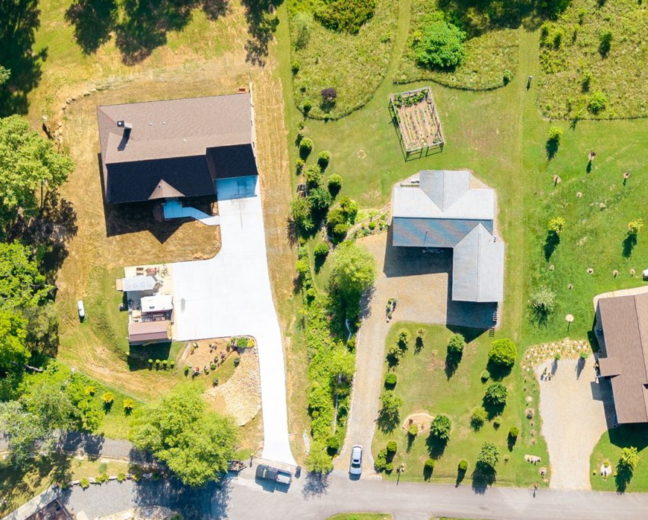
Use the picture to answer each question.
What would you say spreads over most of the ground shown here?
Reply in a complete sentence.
The largest share of the image is taken up by grass.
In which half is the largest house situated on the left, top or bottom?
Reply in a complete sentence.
The top half of the photo is where the largest house situated on the left is.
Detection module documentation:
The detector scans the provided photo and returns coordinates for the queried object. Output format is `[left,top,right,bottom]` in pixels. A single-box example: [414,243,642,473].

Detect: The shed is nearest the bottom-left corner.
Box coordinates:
[129,320,173,342]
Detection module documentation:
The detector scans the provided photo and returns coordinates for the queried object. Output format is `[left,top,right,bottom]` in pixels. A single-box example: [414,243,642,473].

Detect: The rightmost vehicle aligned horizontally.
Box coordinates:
[254,468,291,487]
